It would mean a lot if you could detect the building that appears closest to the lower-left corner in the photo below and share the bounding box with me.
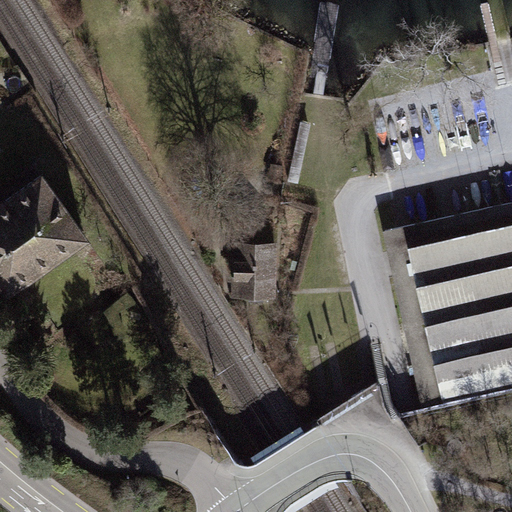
[104,294,144,353]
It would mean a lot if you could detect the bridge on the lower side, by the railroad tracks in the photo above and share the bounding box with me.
[248,425,352,512]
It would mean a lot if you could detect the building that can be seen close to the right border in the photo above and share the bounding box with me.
[382,201,512,408]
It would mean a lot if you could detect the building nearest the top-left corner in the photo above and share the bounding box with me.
[0,175,87,304]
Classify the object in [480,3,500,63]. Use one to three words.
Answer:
pier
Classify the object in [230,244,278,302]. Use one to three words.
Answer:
house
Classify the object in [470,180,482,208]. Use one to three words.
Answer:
boat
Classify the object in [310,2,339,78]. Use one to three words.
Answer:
pier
